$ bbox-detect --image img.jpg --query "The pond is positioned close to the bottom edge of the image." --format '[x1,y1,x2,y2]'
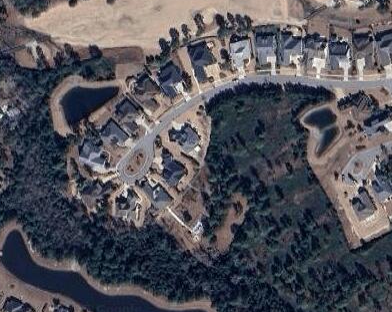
[0,230,205,312]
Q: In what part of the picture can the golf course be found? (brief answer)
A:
top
